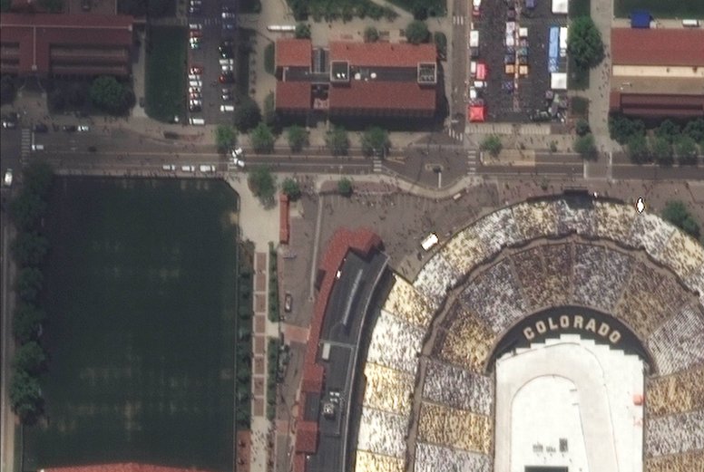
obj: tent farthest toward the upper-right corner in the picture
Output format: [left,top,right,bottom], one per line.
[632,11,651,28]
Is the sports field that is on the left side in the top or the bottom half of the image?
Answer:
bottom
